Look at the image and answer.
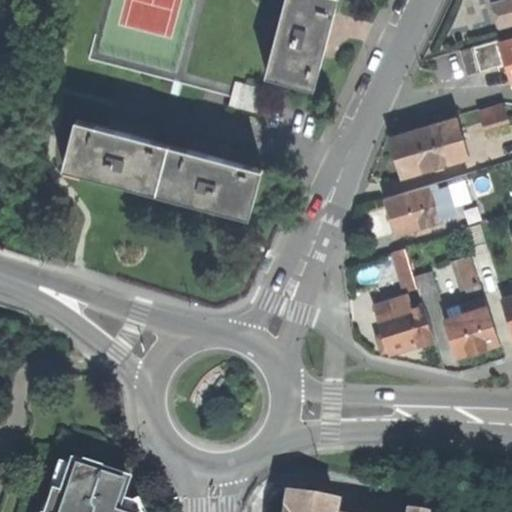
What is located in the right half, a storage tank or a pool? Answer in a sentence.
You can see a pool in the right half.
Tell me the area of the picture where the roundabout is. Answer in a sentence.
The roundabout is located in the bottom region of the scene.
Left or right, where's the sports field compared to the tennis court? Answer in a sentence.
In the image, the sports field sits on the right side of the tennis court.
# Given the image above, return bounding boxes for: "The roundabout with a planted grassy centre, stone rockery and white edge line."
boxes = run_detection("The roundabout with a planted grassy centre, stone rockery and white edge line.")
[144,326,290,472]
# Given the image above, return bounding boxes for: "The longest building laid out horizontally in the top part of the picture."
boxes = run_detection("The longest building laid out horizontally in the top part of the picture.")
[60,124,262,222]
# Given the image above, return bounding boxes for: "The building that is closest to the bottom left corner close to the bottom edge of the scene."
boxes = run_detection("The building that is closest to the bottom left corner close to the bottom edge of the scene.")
[42,456,144,512]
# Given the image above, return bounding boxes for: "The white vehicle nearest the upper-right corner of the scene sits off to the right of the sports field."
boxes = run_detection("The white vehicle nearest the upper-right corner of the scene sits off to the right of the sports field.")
[449,54,464,80]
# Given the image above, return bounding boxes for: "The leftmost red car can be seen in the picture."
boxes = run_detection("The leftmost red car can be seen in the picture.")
[308,196,322,218]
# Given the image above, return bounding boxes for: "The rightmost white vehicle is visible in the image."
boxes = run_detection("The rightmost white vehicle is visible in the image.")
[483,267,496,291]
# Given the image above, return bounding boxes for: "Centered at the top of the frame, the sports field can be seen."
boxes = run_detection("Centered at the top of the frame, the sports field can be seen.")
[187,0,284,83]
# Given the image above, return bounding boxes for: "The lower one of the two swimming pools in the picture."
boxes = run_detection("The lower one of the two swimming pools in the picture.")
[356,266,382,284]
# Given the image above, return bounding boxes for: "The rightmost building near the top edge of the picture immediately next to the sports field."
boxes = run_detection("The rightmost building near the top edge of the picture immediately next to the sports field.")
[264,0,338,96]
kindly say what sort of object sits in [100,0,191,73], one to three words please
tennis court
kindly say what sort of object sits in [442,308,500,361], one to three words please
house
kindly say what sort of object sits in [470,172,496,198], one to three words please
swimming pool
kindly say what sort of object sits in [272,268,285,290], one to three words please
vehicle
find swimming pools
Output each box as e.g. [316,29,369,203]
[356,266,382,284]
[470,172,496,198]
